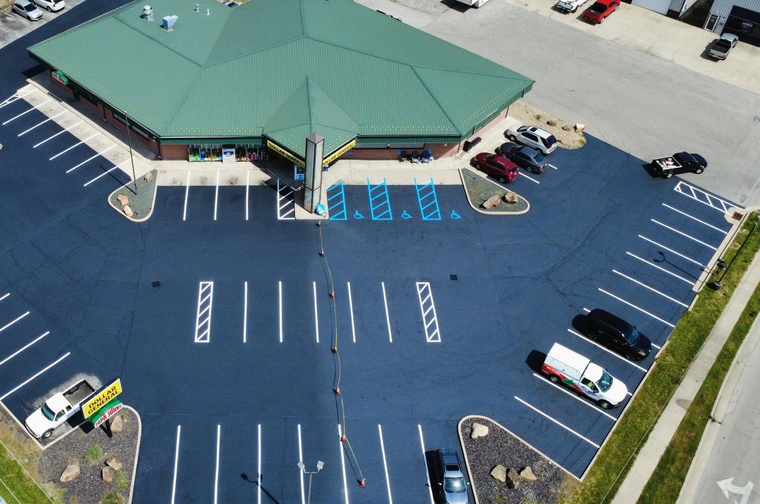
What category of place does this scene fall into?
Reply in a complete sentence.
The picture captures a parking lot.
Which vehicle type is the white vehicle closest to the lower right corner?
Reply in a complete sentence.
I'd identify the white vehicle closest to the lower right corner as a truck.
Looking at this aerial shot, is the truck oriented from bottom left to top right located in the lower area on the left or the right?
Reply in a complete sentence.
The truck oriented from bottom left to top right located in the lower area sits on the left side.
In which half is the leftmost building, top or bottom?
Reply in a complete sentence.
The leftmost building sits in the top half of the picture.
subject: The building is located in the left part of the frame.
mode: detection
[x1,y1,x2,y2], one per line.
[26,0,536,169]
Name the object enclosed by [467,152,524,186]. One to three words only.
car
